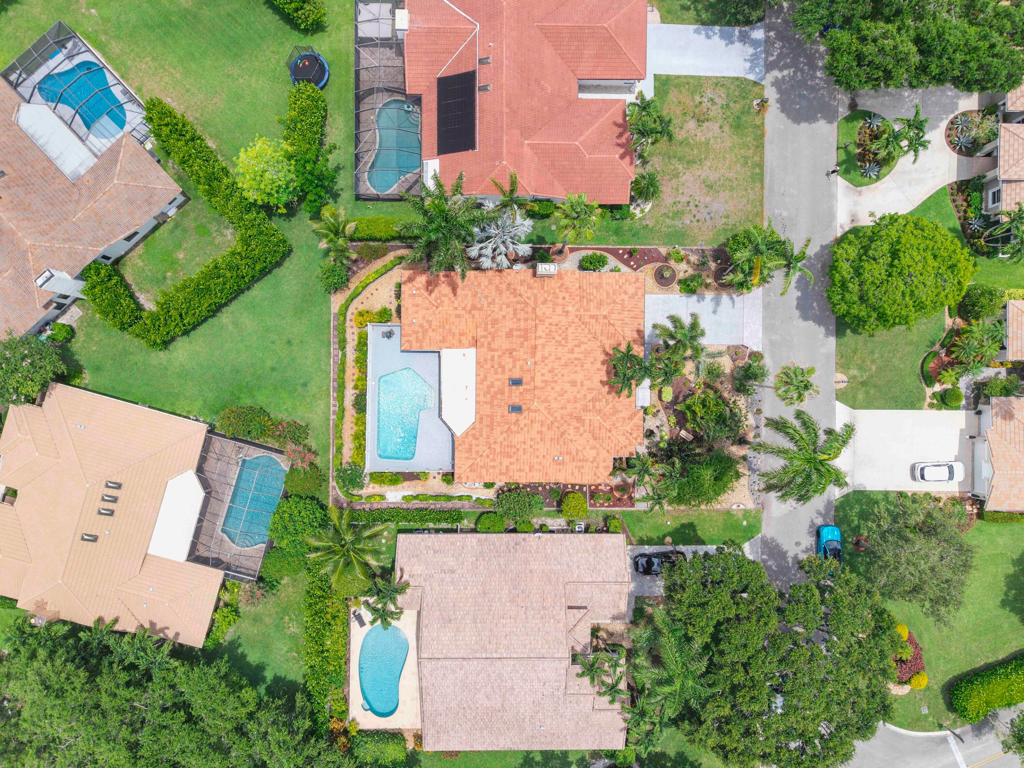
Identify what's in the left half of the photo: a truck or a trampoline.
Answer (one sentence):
The one visible in the left half of the photo is a trampoline.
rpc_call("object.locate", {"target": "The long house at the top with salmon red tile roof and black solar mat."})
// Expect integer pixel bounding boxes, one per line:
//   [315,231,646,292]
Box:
[395,0,649,206]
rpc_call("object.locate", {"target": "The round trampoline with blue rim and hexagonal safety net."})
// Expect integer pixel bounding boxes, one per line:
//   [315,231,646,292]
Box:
[285,46,331,91]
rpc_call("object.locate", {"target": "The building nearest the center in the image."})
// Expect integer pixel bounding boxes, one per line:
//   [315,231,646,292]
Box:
[400,263,646,484]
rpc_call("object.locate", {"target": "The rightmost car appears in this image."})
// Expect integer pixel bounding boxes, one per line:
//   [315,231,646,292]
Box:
[909,460,964,485]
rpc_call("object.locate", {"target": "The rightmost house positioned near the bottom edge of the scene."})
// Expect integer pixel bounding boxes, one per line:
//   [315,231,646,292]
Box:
[398,532,632,752]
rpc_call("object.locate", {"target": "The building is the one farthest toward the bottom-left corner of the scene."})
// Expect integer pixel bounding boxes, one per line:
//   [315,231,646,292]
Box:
[0,384,230,649]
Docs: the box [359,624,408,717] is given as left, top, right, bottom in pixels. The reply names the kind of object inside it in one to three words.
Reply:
swimming pool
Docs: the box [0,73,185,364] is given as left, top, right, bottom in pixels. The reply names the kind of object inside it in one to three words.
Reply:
house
